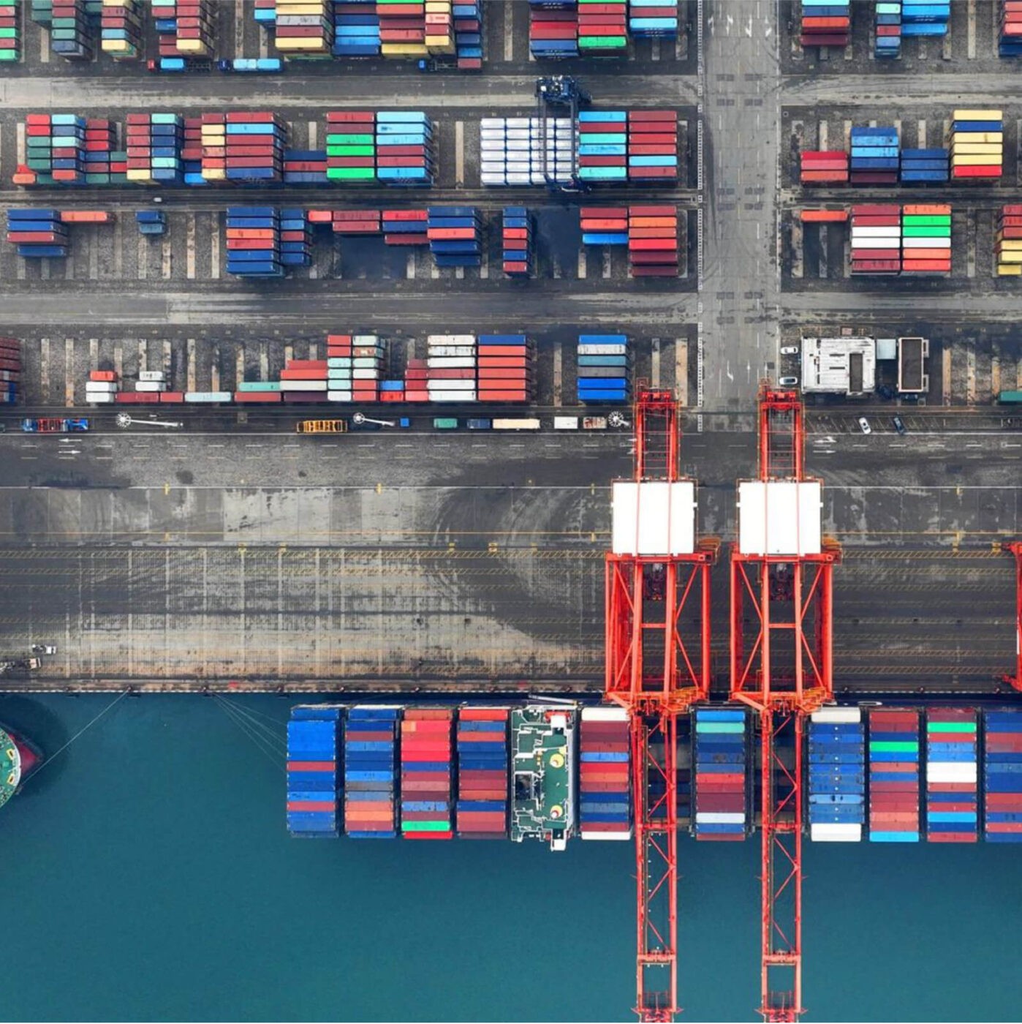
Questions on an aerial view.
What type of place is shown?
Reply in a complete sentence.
What you see here is a port.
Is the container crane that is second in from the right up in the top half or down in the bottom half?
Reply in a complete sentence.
The container crane that is second in from the right is in the bottom half of the image.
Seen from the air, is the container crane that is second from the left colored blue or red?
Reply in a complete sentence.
In this view, the container crane that is second from the left is red.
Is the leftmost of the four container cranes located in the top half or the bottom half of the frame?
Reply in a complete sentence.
The leftmost of the four container cranes is in the top half of the image.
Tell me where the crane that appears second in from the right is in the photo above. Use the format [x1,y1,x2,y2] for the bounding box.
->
[717,376,848,1024]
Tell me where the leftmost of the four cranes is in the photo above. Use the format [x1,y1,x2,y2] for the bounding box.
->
[537,78,600,201]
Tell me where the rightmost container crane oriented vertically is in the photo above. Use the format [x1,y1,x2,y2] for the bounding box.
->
[996,544,1022,689]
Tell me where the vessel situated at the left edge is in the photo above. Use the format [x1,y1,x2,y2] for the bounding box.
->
[0,720,42,802]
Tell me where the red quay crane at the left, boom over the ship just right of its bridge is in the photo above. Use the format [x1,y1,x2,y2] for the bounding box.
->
[600,376,730,1024]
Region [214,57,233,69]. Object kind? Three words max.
vehicle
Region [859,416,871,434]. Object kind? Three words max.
vehicle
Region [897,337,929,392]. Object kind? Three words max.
building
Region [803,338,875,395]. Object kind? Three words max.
building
